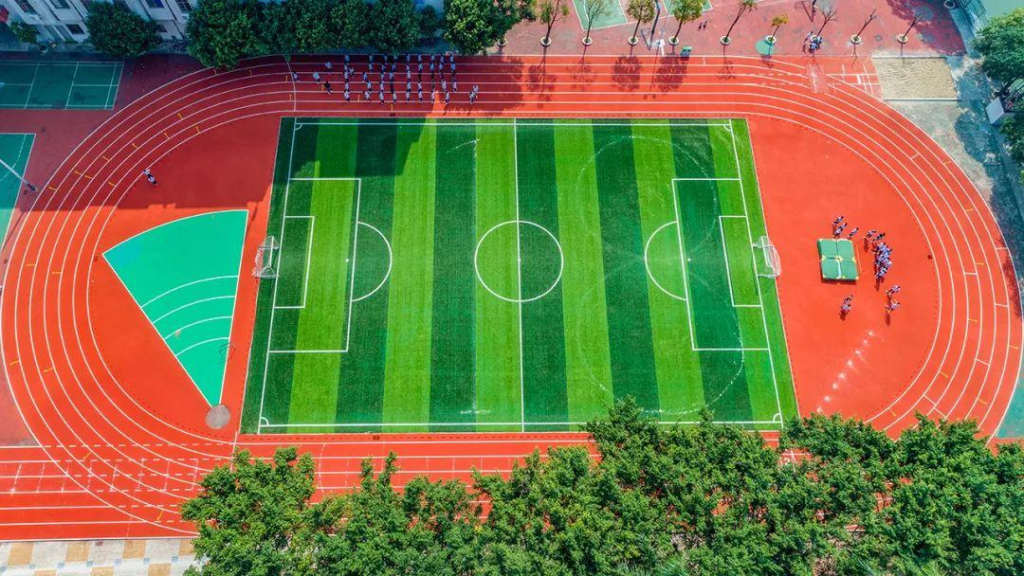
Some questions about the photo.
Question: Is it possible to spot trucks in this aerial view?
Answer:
No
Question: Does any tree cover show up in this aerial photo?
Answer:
Yes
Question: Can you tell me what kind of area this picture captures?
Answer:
sports ground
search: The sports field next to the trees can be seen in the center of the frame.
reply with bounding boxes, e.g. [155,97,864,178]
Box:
[239,116,800,435]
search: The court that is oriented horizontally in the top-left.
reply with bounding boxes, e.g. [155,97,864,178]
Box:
[0,61,125,109]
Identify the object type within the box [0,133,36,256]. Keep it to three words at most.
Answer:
basketball court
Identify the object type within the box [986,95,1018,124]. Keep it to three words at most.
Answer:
building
